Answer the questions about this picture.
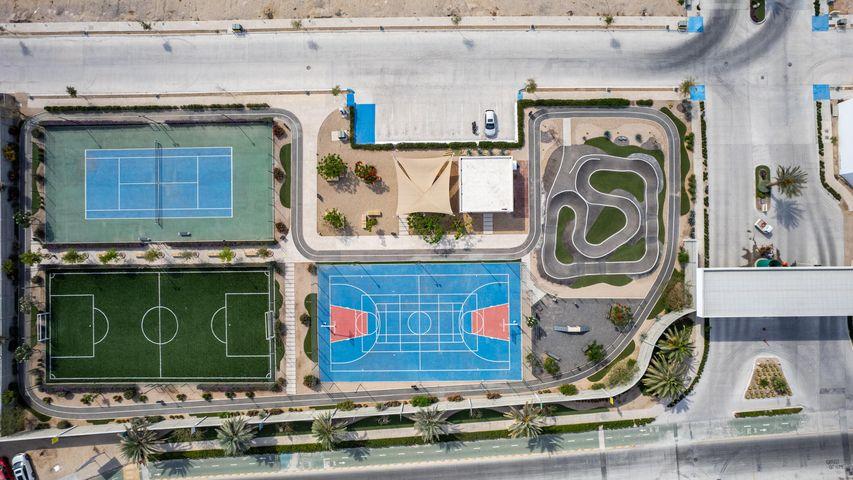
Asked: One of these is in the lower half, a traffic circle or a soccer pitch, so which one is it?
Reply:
soccer pitch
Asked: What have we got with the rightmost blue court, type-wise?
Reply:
basketball court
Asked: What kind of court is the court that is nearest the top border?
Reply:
tennis court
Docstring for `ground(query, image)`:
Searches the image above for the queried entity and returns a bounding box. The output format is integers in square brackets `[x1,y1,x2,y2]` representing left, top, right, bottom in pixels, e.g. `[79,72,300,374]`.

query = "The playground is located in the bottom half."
[532,294,643,381]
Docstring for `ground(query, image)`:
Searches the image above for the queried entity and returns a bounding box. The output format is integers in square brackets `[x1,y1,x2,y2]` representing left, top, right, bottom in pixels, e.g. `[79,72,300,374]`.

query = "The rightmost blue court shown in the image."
[317,262,522,382]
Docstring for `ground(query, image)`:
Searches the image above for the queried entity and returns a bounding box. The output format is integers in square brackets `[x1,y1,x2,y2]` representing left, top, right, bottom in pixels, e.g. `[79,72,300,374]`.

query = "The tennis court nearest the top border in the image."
[44,122,275,243]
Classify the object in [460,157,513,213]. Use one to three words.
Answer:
building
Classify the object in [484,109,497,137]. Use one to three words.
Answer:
vehicle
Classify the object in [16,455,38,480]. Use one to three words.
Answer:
car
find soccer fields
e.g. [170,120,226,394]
[46,263,275,384]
